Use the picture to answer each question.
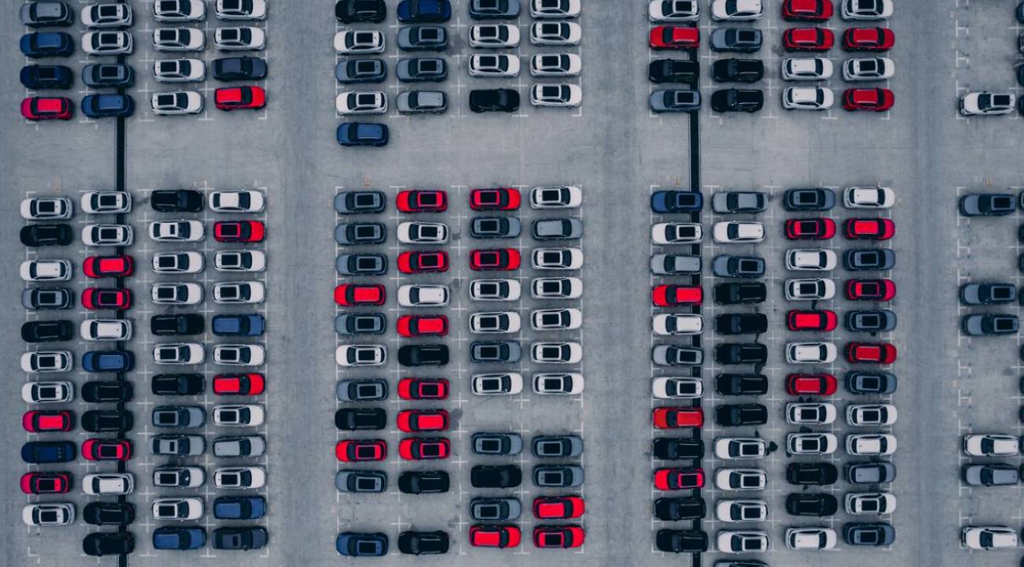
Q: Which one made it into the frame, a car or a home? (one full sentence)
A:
Of the two, only a car appears.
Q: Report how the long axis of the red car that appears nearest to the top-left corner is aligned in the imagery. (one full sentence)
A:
The red car that appears nearest to the top-left corner runs horizontally in the image.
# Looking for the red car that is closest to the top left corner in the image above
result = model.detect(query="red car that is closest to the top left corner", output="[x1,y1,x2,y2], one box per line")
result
[22,94,75,121]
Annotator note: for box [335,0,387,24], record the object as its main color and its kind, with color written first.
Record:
black car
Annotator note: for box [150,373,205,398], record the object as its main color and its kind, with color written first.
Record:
black car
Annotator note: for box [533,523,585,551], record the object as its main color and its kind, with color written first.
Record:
red car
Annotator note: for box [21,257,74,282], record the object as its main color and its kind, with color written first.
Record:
white car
